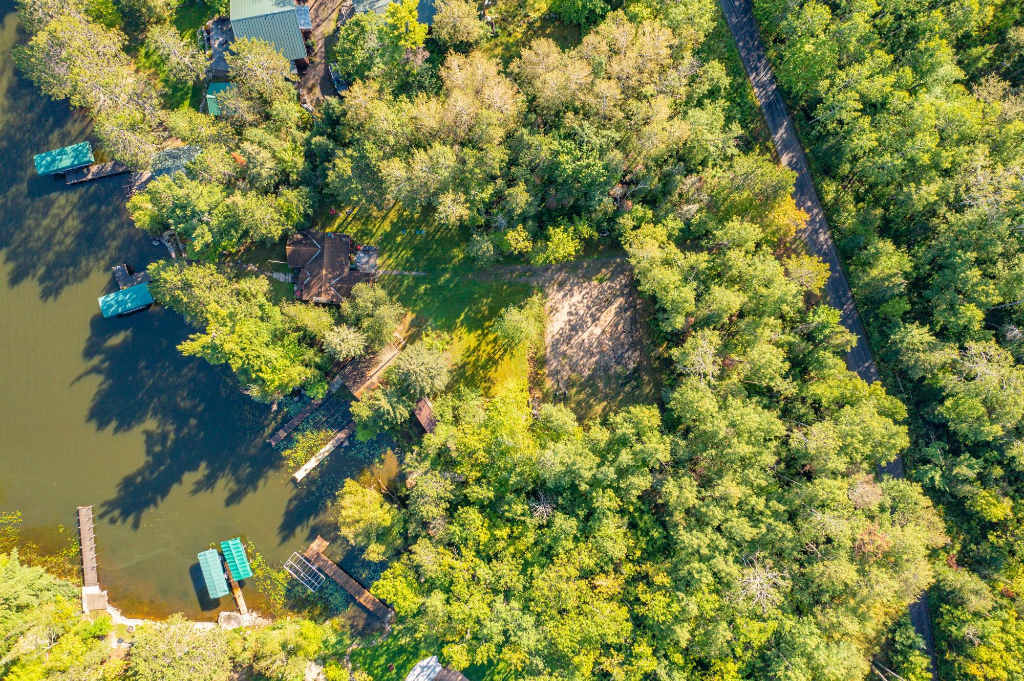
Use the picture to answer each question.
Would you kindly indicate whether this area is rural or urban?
rural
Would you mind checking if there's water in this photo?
Yes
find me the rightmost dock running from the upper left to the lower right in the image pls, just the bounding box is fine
[302,535,393,622]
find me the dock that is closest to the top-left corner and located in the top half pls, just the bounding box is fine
[65,162,130,185]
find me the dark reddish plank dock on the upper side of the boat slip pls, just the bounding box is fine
[268,392,333,447]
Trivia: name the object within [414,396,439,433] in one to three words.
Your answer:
shed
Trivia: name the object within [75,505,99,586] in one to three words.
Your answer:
pier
